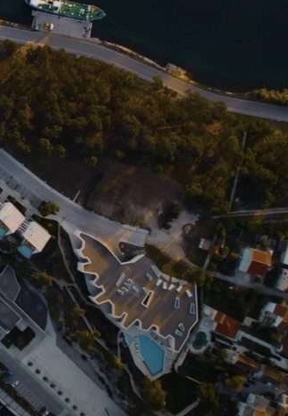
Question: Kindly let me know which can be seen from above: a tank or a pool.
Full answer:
The image shows a pool.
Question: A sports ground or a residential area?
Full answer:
The picture captures a residential area.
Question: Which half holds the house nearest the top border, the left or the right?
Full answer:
The house nearest the top border appears in the left half of the scene.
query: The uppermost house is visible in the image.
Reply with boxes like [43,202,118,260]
[0,199,24,234]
